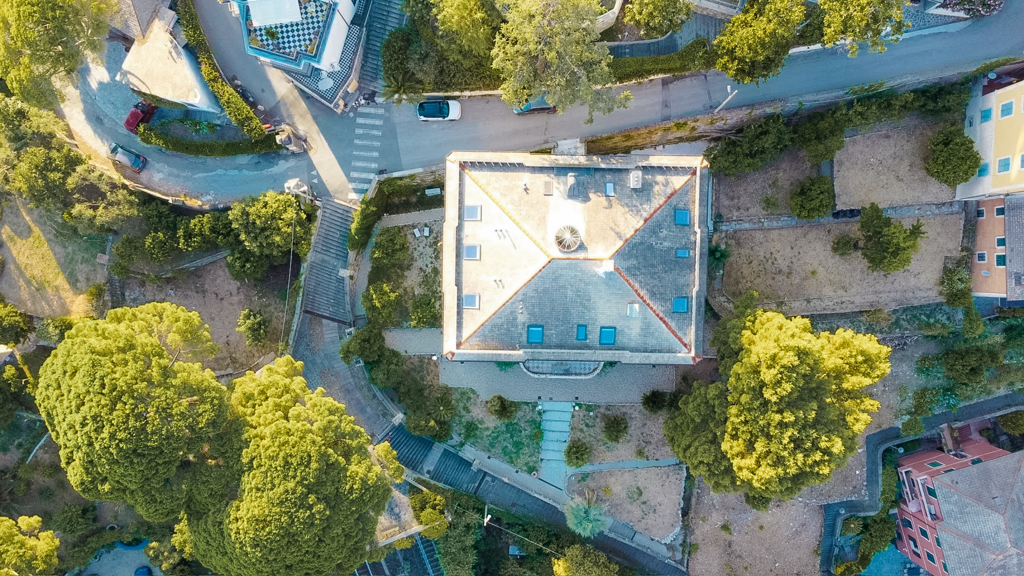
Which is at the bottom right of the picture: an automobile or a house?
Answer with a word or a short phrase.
house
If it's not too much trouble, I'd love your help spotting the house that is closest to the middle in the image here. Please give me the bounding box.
[440,150,711,363]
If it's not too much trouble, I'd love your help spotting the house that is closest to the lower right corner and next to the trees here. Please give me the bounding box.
[898,438,1024,576]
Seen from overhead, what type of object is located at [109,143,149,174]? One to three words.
car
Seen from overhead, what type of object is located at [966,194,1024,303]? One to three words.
house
